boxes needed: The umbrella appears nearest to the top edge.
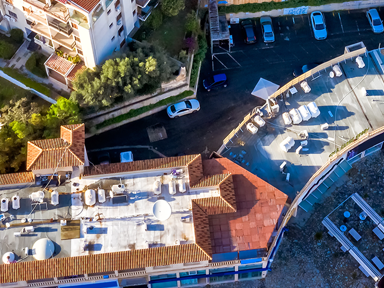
[252,75,278,96]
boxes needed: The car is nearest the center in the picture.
[166,94,203,119]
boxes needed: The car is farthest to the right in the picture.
[366,4,384,34]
